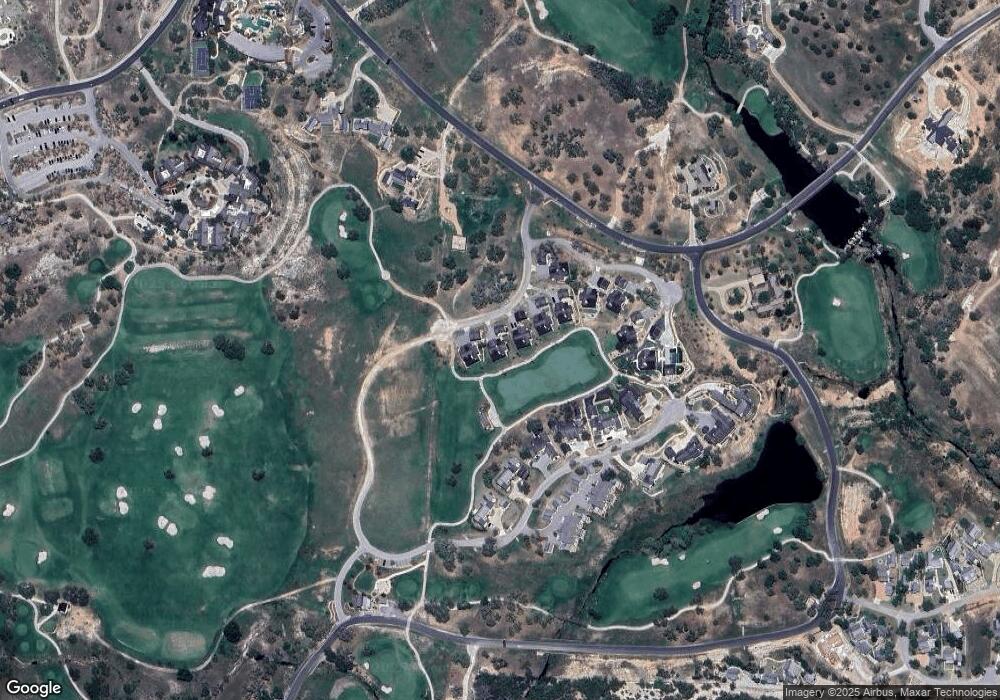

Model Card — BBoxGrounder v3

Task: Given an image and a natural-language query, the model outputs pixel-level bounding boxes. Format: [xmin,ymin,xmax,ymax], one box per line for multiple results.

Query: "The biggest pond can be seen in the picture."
[498,347,598,412]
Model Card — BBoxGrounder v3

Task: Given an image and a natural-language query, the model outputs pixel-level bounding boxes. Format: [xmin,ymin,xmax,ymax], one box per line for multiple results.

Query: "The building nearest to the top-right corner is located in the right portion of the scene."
[925,106,958,150]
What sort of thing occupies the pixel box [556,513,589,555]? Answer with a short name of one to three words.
building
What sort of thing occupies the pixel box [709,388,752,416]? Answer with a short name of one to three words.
house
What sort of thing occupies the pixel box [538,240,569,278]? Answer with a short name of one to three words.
house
